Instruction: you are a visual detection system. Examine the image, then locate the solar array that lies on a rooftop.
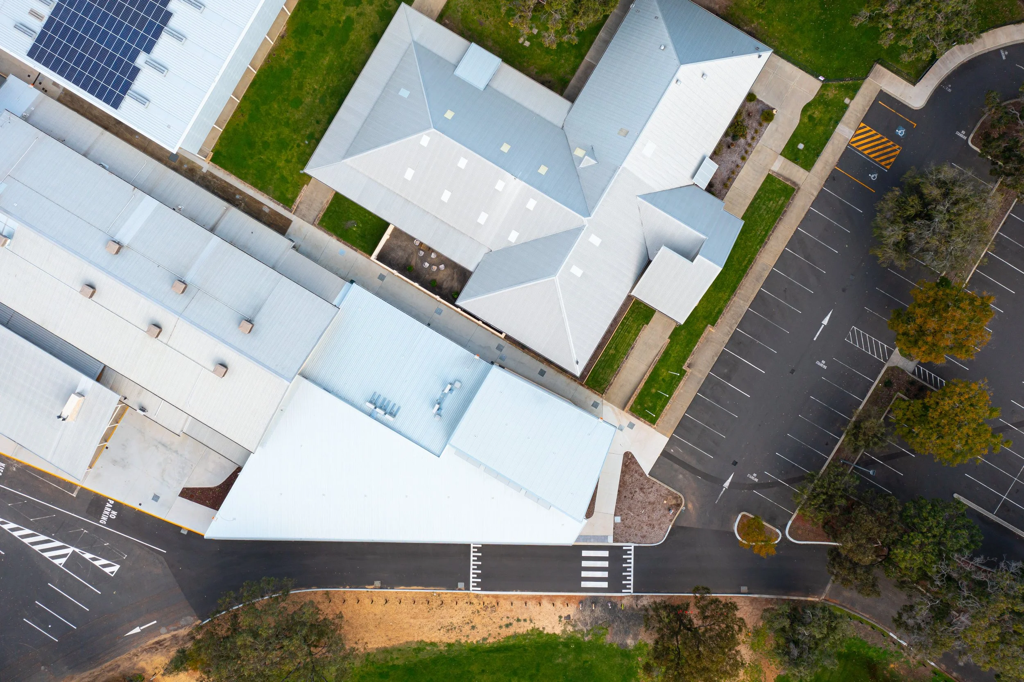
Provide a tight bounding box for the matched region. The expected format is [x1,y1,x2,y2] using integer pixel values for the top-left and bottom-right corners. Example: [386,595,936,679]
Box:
[27,0,179,109]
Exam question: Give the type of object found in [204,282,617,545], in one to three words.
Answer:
building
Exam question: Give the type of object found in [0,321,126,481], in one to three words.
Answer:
building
